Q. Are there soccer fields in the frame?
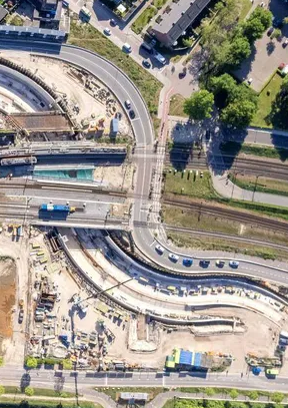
No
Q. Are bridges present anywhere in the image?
Yes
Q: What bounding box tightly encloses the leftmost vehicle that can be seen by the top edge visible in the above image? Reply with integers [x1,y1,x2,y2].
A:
[79,3,93,19]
